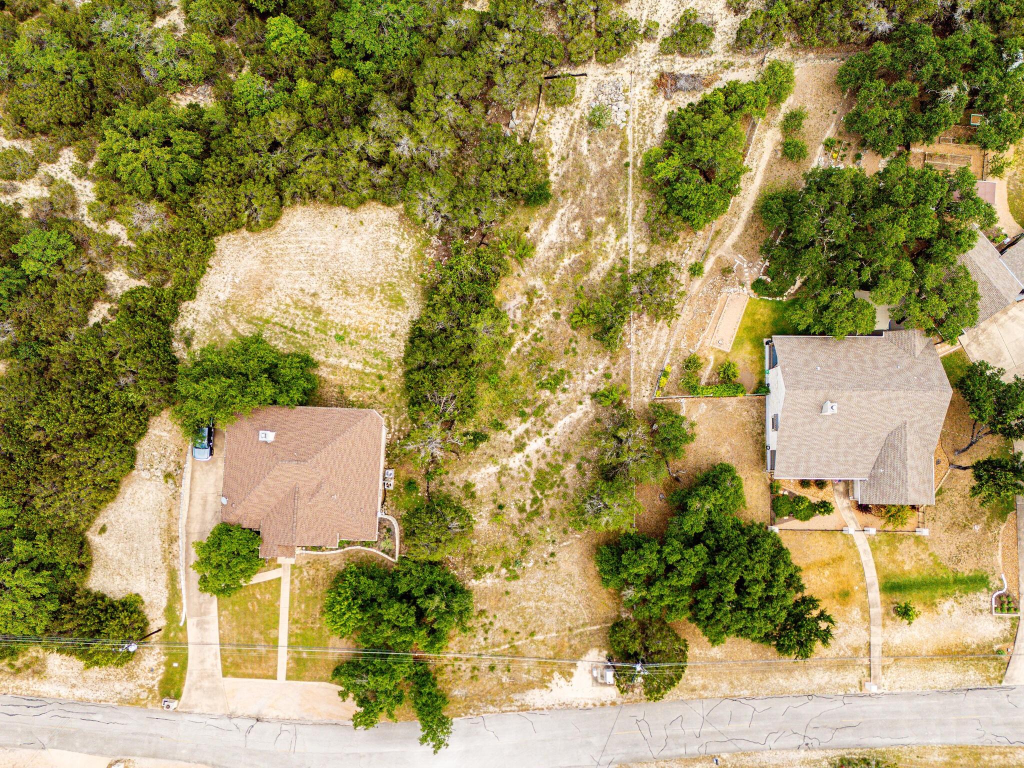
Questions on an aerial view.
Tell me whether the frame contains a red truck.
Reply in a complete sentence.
No, the picture doesn't show any red truck.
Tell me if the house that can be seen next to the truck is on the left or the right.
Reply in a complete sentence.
You can find the house that can be seen next to the truck on the left side of the picture.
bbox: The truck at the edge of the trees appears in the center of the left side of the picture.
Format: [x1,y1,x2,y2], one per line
[191,429,216,461]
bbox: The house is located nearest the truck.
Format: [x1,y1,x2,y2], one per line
[220,405,386,558]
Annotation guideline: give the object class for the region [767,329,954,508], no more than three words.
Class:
house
